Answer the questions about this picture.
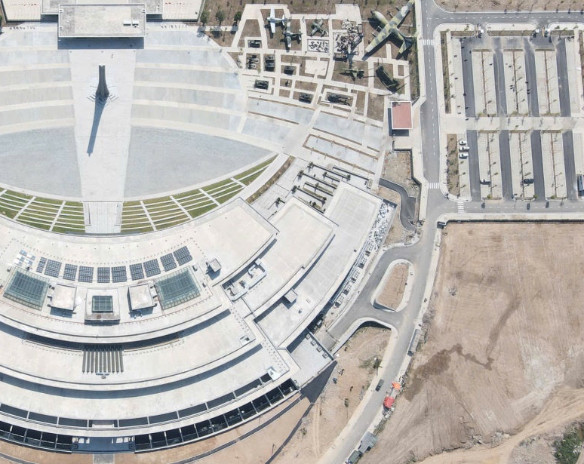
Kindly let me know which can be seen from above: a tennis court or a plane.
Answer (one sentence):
Of the two, only a plane appears.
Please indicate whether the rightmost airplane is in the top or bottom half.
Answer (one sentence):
You can find the rightmost airplane in the top half.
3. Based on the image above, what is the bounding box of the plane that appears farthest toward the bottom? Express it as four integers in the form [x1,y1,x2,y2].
[343,62,365,79]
